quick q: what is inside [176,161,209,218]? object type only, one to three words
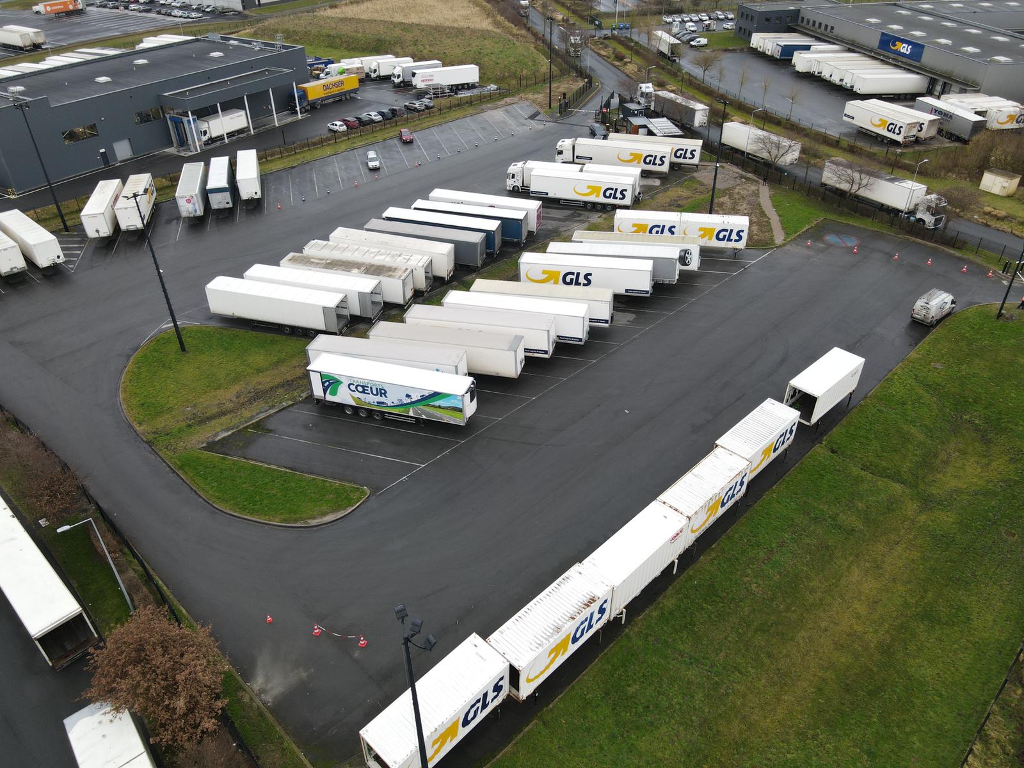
trailer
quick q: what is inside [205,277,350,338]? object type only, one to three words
trailer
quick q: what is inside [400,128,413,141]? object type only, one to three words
vehicle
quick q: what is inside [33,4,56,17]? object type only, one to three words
vehicle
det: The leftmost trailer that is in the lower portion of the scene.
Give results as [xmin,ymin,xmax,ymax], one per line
[0,497,100,675]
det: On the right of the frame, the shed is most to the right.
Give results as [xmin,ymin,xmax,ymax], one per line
[980,161,1024,196]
